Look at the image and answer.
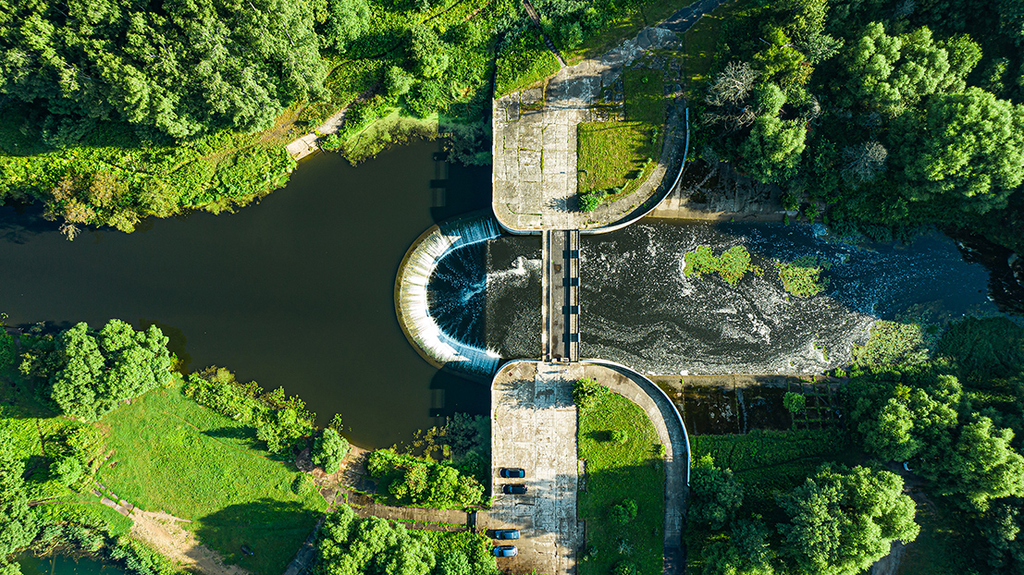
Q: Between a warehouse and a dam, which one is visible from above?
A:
dam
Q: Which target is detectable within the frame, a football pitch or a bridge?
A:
bridge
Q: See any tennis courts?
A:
No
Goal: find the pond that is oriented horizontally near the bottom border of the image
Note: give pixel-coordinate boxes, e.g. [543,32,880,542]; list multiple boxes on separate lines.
[14,548,130,575]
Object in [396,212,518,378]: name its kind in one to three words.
dam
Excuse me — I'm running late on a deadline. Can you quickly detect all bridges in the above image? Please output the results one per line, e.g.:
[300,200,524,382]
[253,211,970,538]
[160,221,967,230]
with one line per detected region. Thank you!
[542,230,580,362]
